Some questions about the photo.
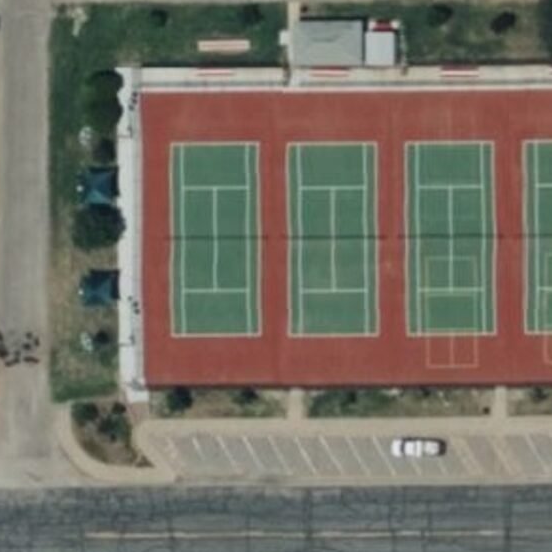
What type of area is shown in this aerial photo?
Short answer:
sports ground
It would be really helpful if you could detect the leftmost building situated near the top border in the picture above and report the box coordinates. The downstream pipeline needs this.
[292,20,366,66]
